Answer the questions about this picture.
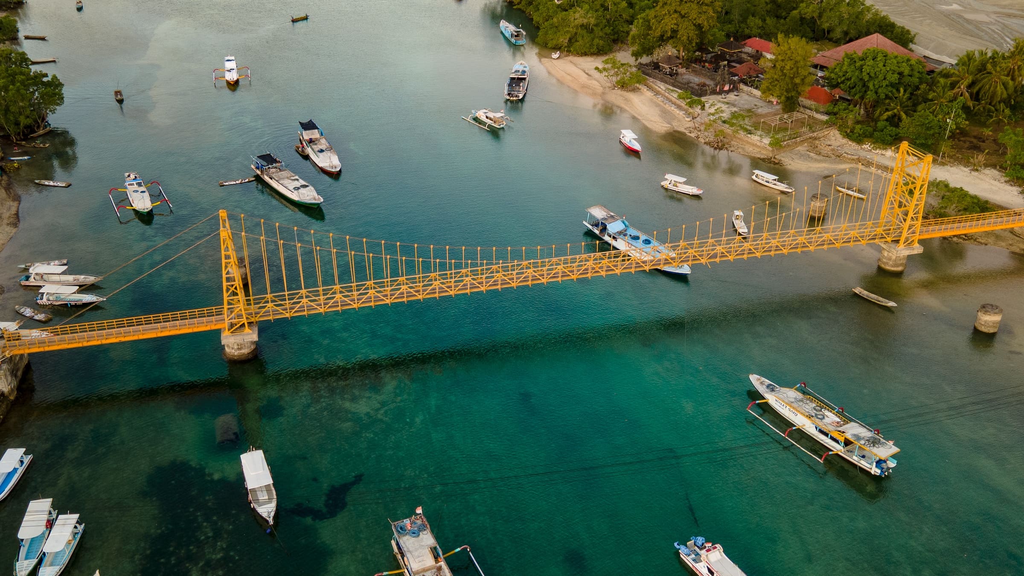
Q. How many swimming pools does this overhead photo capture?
none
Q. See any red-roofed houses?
Yes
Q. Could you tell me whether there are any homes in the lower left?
No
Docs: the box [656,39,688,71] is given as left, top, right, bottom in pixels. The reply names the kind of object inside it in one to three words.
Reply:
building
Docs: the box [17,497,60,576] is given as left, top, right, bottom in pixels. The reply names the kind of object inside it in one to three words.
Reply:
boat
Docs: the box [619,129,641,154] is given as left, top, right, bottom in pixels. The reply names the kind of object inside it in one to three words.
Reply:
boat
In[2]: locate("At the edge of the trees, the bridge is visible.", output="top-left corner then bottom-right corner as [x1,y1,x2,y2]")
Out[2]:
[0,142,1024,362]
